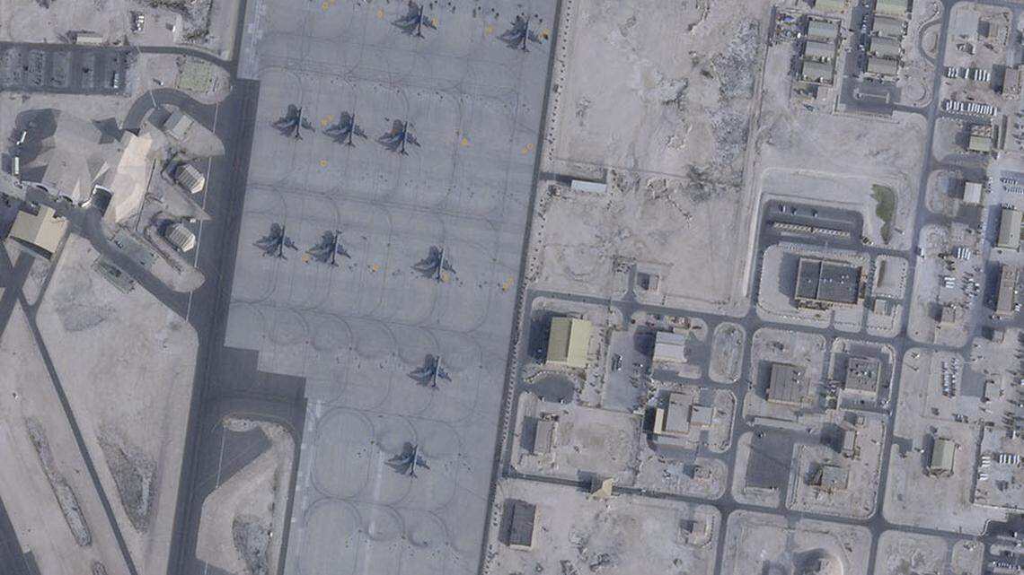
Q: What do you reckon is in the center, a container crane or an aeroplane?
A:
aeroplane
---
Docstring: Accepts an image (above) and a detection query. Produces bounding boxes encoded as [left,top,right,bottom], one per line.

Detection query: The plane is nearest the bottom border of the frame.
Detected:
[396,445,431,477]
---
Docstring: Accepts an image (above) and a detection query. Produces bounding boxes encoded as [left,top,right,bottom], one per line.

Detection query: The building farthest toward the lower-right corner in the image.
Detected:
[930,437,955,472]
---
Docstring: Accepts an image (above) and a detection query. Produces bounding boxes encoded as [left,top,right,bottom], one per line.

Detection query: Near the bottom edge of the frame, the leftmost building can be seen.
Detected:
[509,504,536,547]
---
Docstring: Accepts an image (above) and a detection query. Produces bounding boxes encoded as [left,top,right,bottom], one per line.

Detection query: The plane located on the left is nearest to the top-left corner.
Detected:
[281,107,315,138]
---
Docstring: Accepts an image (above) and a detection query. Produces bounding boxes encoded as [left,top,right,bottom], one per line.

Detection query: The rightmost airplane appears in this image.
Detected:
[509,17,543,48]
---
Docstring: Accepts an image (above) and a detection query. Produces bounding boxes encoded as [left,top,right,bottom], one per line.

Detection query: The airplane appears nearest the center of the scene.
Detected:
[422,249,456,280]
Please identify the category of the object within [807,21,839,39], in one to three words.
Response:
shed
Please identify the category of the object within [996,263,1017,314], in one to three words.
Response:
building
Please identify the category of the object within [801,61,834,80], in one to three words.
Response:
shed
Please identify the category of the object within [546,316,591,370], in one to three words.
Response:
hangar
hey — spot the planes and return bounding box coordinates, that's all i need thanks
[264,226,298,257]
[403,6,437,36]
[509,17,543,48]
[281,107,315,138]
[334,113,368,144]
[387,123,421,153]
[317,233,352,264]
[418,356,452,388]
[396,445,431,477]
[422,249,456,280]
